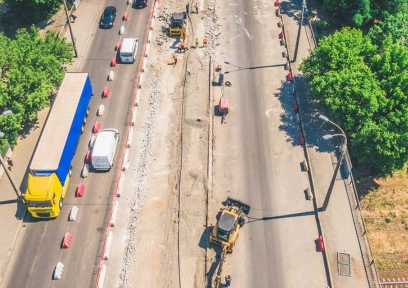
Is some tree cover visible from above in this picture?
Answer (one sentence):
Yes, tree cover shows up in the scene.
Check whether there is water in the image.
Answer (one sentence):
No, no water is visible.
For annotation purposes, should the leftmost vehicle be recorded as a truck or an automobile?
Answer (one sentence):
In the photo, the leftmost vehicle shows up as a truck.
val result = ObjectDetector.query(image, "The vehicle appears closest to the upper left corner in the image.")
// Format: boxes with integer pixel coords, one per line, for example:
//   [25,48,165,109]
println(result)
[99,7,116,27]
